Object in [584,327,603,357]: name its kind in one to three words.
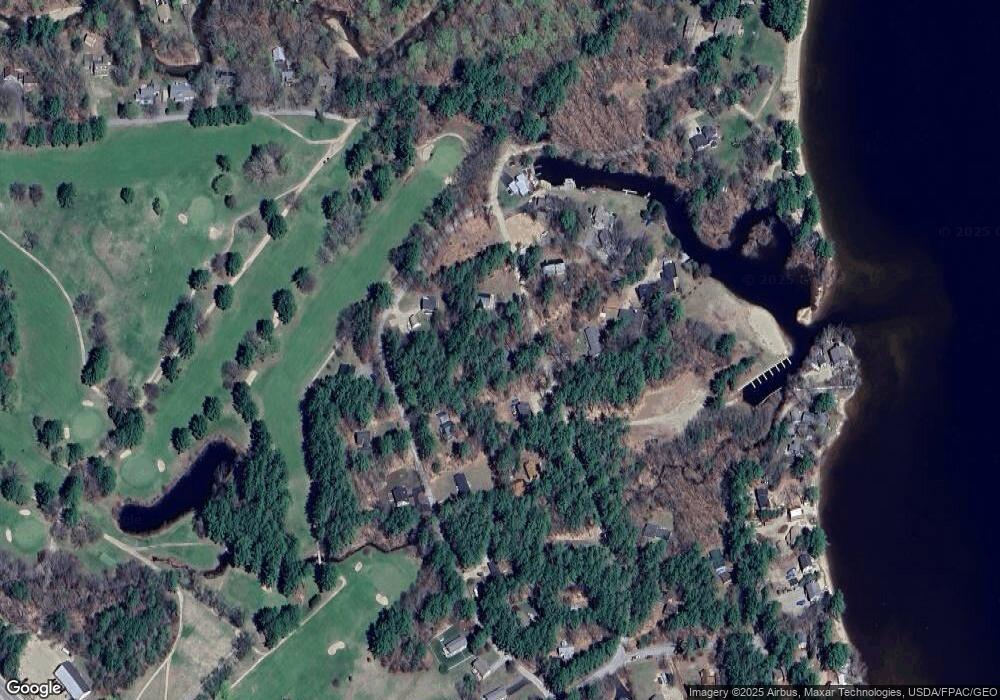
house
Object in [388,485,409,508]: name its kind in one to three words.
house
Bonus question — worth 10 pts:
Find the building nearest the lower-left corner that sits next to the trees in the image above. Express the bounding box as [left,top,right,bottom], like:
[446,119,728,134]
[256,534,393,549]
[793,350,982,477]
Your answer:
[54,661,91,700]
